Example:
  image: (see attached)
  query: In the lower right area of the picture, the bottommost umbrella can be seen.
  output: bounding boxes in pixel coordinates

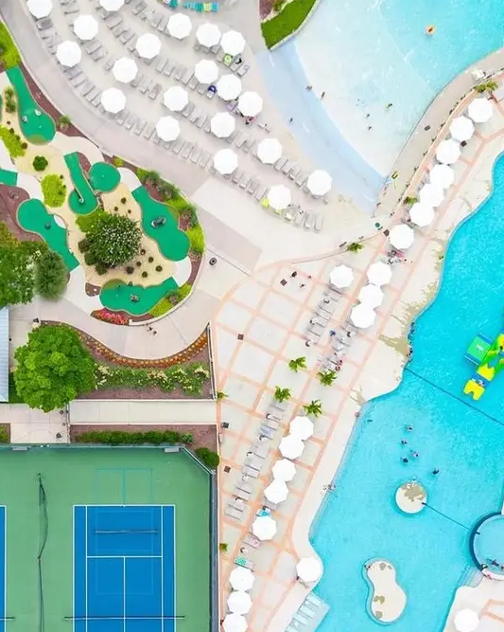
[452,607,479,632]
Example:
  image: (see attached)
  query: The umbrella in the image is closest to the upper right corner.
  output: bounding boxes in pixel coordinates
[466,97,492,123]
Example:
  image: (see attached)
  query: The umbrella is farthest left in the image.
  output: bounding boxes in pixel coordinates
[26,0,52,18]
